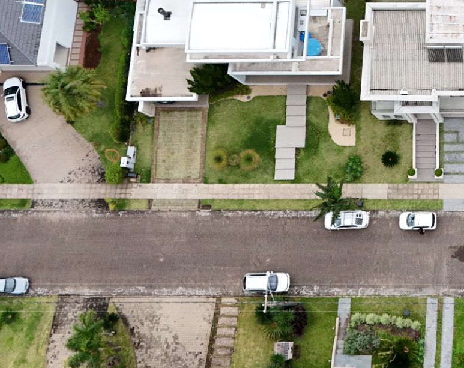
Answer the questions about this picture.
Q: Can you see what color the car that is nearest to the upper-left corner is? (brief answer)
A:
white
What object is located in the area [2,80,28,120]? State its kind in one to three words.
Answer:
car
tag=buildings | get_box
[0,0,73,80]
[126,0,348,116]
[358,0,464,123]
